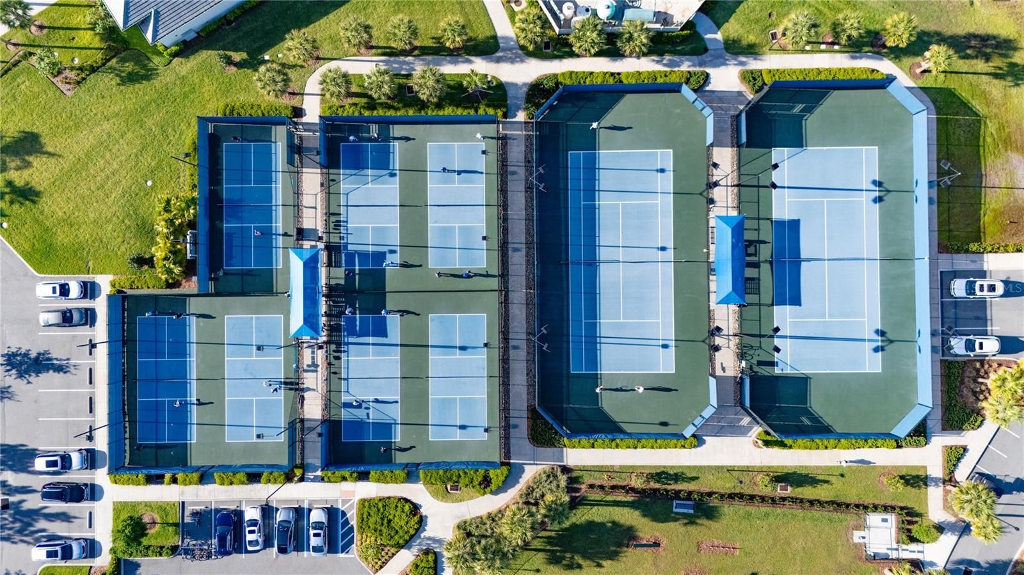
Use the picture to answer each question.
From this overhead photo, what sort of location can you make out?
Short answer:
sports ground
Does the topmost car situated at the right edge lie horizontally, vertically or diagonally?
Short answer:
horizontally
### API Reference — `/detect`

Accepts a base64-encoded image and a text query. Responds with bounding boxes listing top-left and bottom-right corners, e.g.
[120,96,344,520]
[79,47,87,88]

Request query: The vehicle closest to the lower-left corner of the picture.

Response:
[31,537,89,563]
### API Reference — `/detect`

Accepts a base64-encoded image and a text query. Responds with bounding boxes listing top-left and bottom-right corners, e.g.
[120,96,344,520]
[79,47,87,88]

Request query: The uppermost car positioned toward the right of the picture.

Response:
[948,277,1006,300]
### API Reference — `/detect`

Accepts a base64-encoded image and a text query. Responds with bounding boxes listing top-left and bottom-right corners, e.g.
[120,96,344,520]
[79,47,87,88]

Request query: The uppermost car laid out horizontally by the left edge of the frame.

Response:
[33,279,86,301]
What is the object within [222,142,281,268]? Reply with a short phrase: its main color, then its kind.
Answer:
blue sports court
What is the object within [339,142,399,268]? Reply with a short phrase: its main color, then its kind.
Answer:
blue sports court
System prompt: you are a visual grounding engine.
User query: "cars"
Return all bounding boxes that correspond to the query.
[33,279,86,301]
[212,510,237,556]
[34,449,89,472]
[306,508,329,557]
[946,335,1002,357]
[242,506,266,552]
[948,277,1006,300]
[31,537,89,563]
[273,507,297,556]
[38,307,88,328]
[38,481,90,504]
